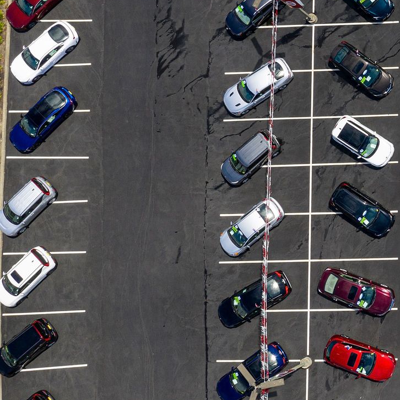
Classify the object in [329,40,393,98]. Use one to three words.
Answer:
car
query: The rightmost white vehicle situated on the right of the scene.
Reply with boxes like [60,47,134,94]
[332,115,393,166]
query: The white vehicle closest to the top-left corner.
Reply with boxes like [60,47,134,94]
[9,23,79,85]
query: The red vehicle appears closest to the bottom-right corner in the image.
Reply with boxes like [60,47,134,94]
[324,333,396,382]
